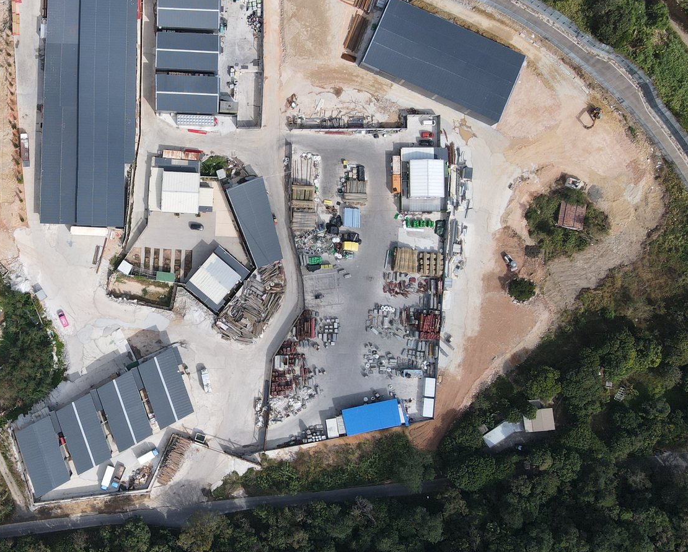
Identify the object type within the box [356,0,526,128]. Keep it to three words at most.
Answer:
warehouse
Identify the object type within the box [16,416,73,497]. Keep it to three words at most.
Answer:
shed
